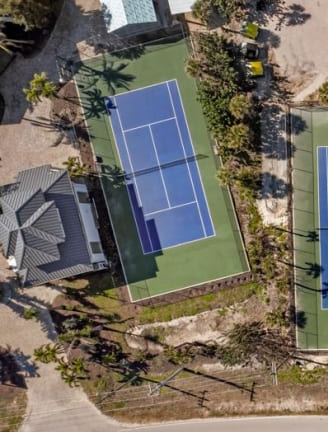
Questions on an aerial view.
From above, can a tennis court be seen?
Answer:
Yes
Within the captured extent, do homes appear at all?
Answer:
Yes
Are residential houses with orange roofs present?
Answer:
No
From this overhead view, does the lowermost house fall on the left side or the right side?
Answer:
left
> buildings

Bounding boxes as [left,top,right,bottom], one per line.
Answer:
[0,167,111,289]
[170,0,198,20]
[101,0,168,40]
